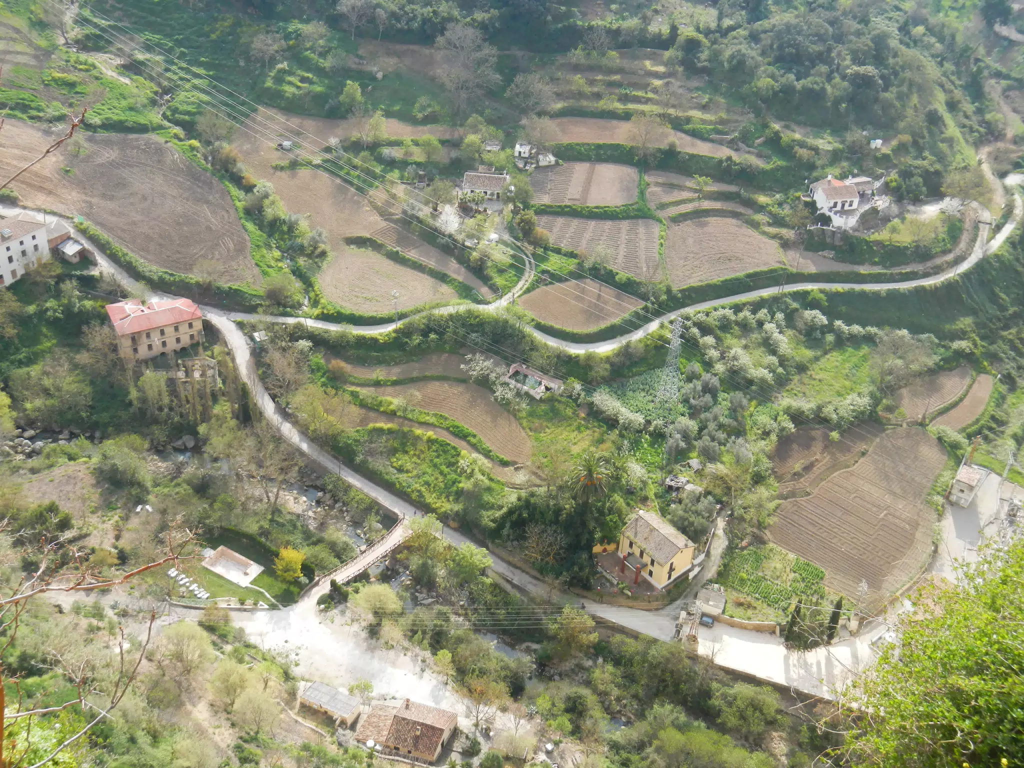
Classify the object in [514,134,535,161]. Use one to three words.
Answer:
shed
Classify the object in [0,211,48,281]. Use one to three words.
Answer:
house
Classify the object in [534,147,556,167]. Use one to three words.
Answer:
shed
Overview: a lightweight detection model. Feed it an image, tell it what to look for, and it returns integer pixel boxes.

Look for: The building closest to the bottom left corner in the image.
[297,677,363,737]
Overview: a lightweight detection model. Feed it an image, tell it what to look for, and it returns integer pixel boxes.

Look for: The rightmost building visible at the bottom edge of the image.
[354,697,457,767]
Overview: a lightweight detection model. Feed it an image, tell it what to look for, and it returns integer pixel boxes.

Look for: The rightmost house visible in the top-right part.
[804,169,870,212]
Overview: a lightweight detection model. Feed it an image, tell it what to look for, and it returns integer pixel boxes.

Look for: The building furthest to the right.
[948,462,993,513]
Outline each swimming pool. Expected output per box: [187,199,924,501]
[202,544,266,588]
